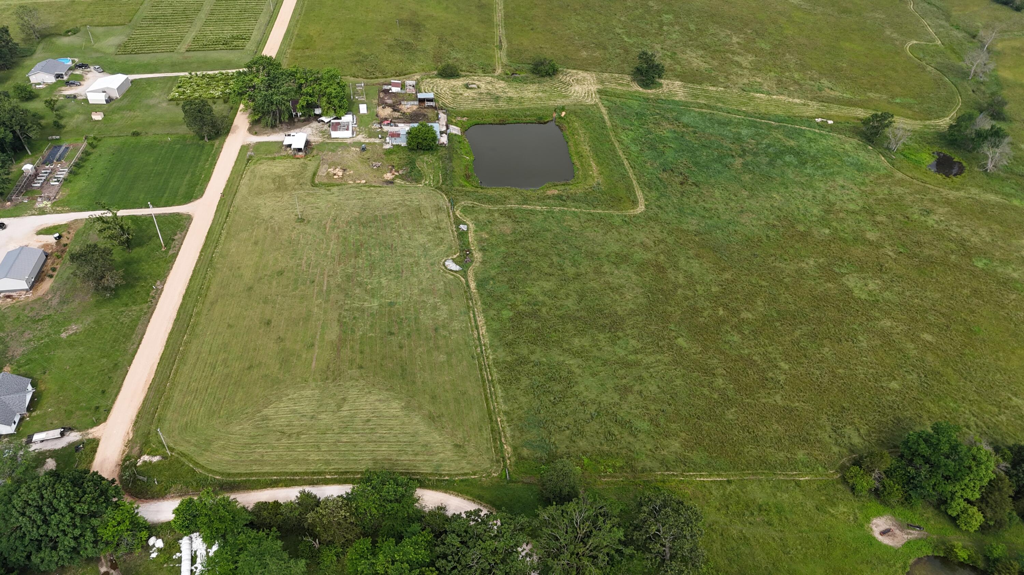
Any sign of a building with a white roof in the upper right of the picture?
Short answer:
No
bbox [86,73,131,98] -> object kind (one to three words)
building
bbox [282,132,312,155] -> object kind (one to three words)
barn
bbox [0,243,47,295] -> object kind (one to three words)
building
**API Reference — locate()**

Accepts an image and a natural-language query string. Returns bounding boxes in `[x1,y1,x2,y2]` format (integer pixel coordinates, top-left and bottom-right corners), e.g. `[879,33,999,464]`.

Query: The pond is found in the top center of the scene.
[467,119,574,189]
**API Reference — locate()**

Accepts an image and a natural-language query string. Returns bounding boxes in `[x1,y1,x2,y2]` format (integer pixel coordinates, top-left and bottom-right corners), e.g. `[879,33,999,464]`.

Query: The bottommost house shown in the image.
[0,371,44,435]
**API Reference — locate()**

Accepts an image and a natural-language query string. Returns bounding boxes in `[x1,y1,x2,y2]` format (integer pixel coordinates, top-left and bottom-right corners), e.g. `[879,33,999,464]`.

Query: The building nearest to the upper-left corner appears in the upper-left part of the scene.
[27,58,77,82]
